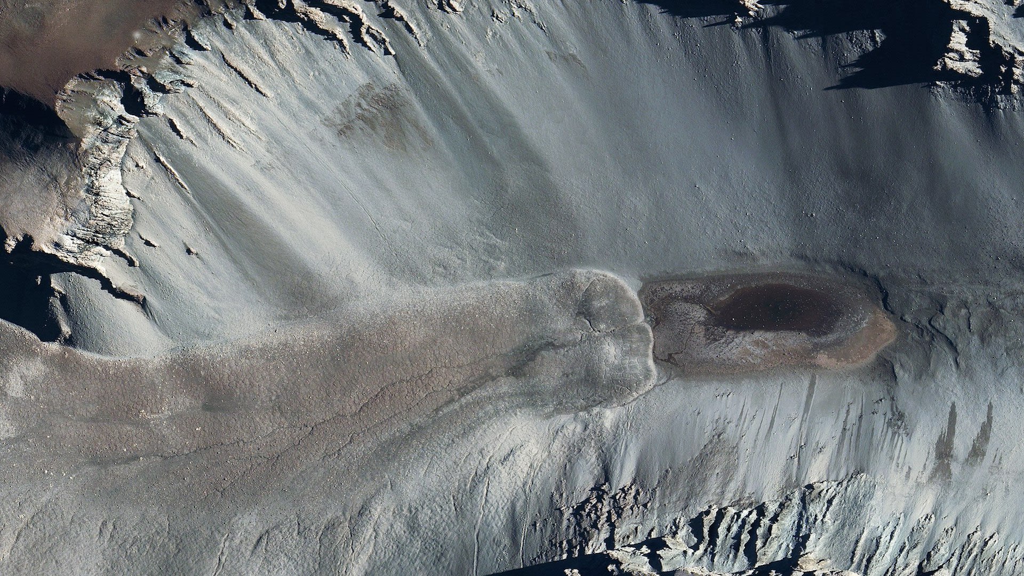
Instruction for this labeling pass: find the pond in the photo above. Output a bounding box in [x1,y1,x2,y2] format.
[705,282,856,339]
